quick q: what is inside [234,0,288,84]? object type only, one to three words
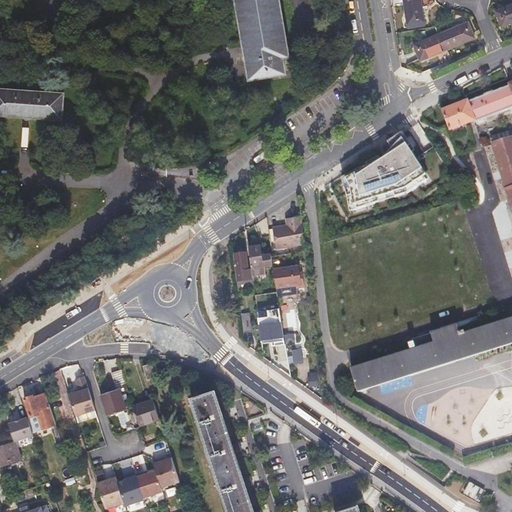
building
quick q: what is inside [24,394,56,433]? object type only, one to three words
house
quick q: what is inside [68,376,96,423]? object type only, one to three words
house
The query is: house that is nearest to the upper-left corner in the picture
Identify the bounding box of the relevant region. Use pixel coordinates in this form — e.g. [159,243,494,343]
[0,88,64,122]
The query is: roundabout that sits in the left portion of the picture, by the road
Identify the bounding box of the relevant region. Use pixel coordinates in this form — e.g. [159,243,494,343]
[112,240,232,364]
